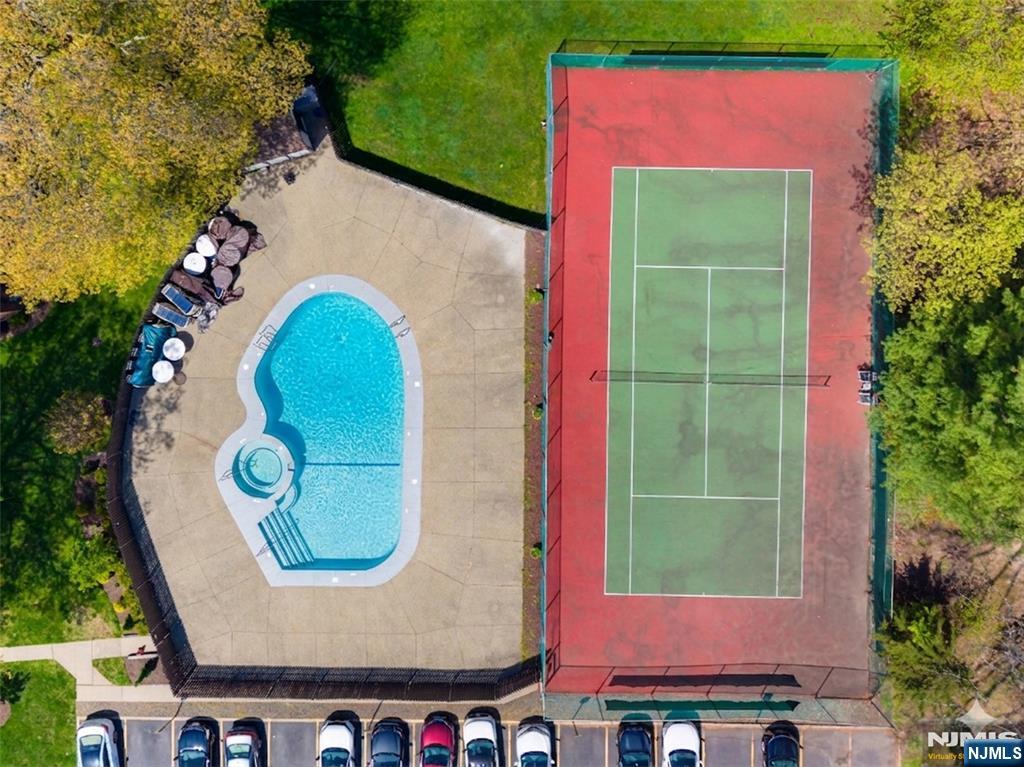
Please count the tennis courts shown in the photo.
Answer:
1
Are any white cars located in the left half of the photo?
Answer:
Yes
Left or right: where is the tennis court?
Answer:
right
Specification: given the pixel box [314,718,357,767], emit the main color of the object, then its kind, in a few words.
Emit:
white car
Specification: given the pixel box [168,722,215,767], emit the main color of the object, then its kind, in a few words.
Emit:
blue car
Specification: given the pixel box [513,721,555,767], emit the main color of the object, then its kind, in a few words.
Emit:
white car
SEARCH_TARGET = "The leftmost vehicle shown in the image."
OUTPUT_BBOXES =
[74,717,117,767]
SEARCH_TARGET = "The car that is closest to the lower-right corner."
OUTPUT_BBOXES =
[763,728,802,767]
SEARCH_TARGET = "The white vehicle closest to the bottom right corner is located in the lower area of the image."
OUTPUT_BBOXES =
[663,718,708,767]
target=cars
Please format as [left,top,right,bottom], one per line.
[366,721,408,767]
[168,722,215,767]
[416,717,458,767]
[513,721,555,767]
[663,718,708,767]
[459,713,502,767]
[314,718,357,767]
[74,717,117,767]
[617,721,659,767]
[763,728,802,767]
[221,727,259,767]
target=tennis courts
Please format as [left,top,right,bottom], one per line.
[547,68,876,697]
